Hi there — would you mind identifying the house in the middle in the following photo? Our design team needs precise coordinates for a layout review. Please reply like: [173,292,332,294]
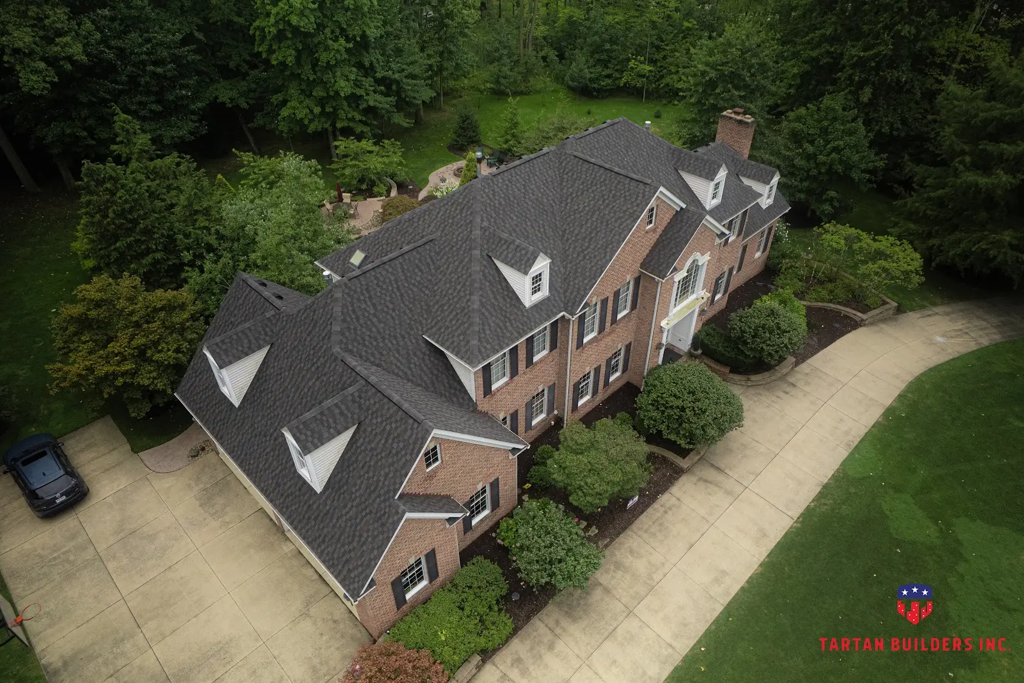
[173,105,791,639]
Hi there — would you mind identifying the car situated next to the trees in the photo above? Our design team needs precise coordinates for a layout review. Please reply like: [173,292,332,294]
[2,429,90,517]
